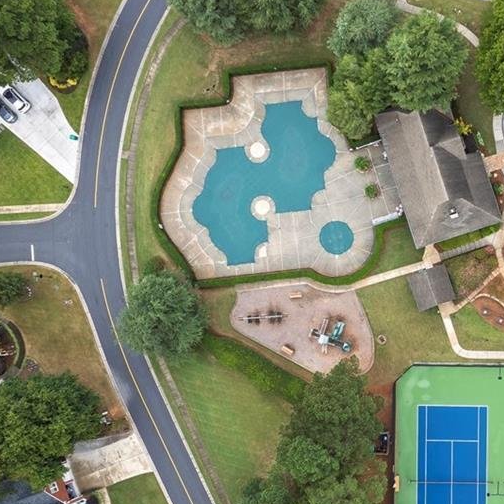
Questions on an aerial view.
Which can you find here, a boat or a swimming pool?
swimming pool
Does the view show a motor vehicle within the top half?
Yes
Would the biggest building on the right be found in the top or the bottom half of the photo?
top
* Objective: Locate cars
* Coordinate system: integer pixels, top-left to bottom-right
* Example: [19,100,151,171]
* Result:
[0,99,20,127]
[1,84,31,114]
